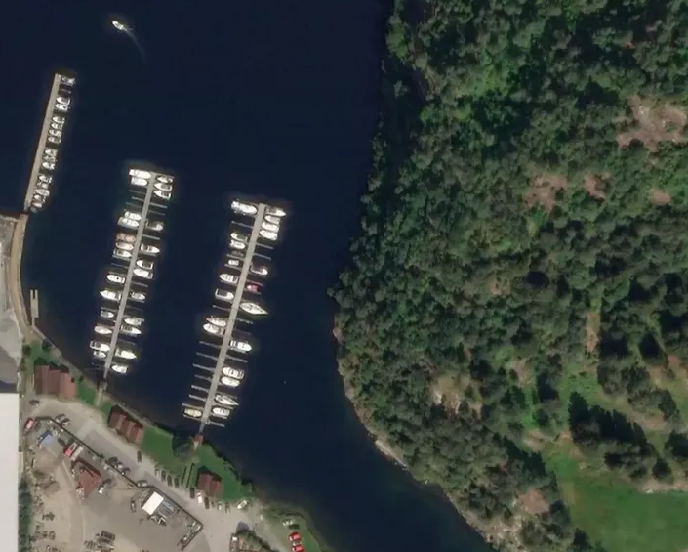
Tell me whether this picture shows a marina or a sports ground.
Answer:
marina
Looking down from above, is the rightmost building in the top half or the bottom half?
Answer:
bottom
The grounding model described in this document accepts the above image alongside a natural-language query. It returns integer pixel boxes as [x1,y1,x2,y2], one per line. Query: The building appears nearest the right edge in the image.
[198,471,222,497]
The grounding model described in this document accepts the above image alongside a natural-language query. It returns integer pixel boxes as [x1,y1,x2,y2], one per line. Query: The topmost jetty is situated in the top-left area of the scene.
[23,74,62,211]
